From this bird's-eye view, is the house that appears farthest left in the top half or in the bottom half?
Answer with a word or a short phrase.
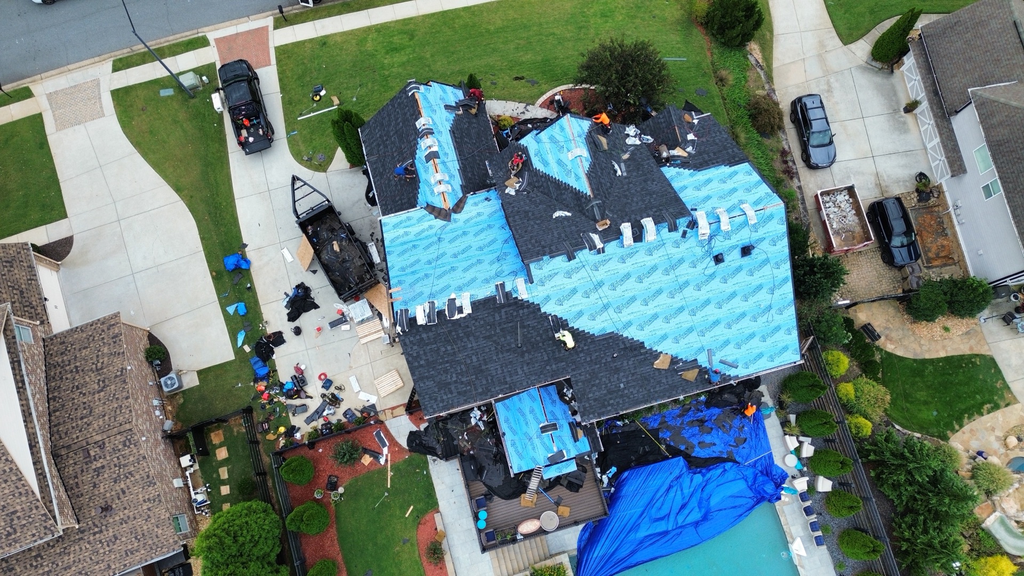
bottom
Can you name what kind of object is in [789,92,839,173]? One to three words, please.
car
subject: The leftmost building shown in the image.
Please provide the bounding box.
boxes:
[0,242,197,576]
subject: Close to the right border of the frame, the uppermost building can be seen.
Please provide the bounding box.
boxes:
[901,0,1024,296]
